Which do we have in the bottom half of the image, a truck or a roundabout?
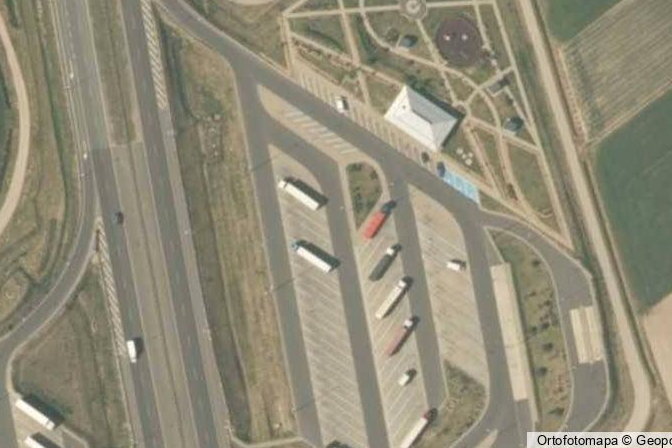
truck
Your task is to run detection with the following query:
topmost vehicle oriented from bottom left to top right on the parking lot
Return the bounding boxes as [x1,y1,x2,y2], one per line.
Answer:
[365,200,396,239]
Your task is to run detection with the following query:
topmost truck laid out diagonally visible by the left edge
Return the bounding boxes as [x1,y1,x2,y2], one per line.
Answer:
[14,399,55,430]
